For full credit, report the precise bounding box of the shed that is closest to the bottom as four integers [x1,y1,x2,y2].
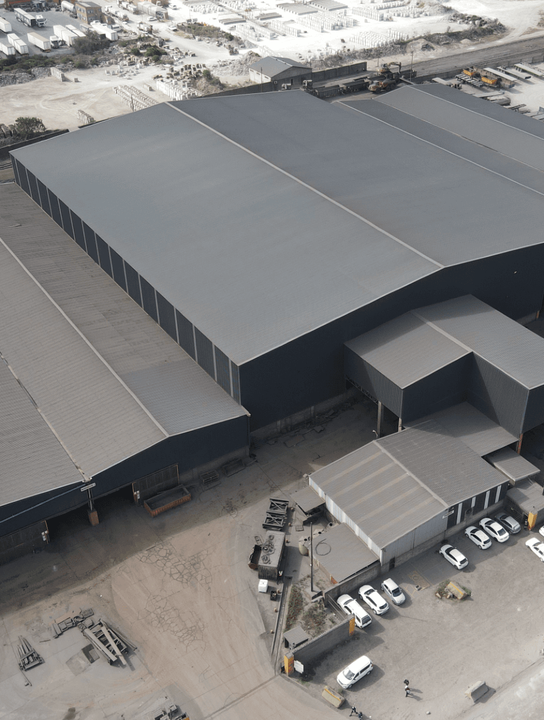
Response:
[284,627,308,652]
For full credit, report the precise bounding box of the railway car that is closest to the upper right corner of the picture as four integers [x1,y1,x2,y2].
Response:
[397,68,420,82]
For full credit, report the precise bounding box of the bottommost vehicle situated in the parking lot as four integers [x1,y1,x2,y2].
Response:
[334,654,376,693]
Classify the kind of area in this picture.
industrial area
